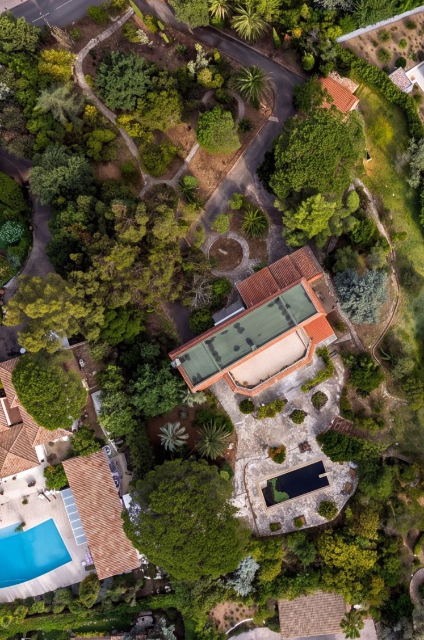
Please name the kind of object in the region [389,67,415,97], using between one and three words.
shed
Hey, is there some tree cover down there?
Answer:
Yes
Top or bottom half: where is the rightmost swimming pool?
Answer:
bottom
